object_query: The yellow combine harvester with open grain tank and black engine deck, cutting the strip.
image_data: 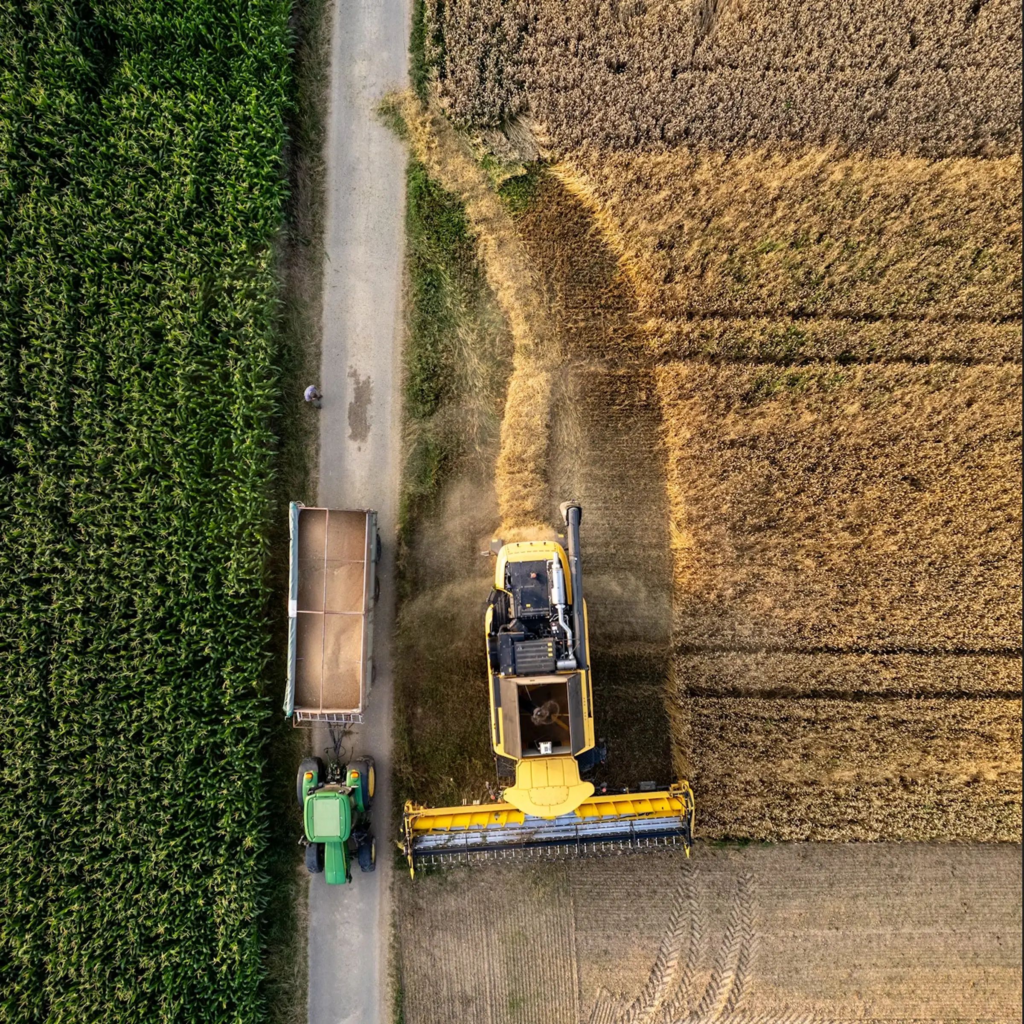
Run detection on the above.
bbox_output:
[396,500,695,880]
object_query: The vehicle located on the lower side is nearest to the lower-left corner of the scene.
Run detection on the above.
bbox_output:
[298,745,378,885]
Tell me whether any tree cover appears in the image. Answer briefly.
No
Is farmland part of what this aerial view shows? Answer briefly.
Yes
